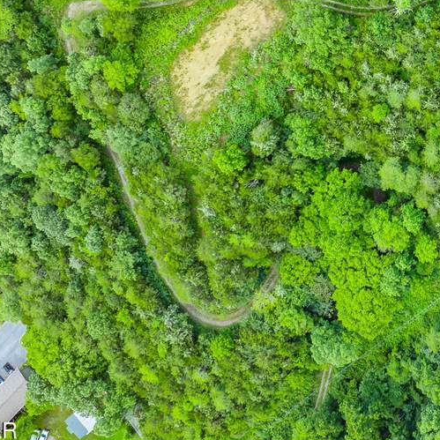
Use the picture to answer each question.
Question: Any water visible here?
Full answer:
No, there's no water in this view.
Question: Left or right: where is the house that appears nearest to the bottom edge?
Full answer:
You can find the house that appears nearest to the bottom edge on the left side of the picture.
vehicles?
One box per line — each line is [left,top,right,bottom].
[0,359,13,375]
[39,429,50,440]
[30,430,40,440]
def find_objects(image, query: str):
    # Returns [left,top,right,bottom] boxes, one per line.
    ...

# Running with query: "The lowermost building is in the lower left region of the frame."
[62,407,96,440]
